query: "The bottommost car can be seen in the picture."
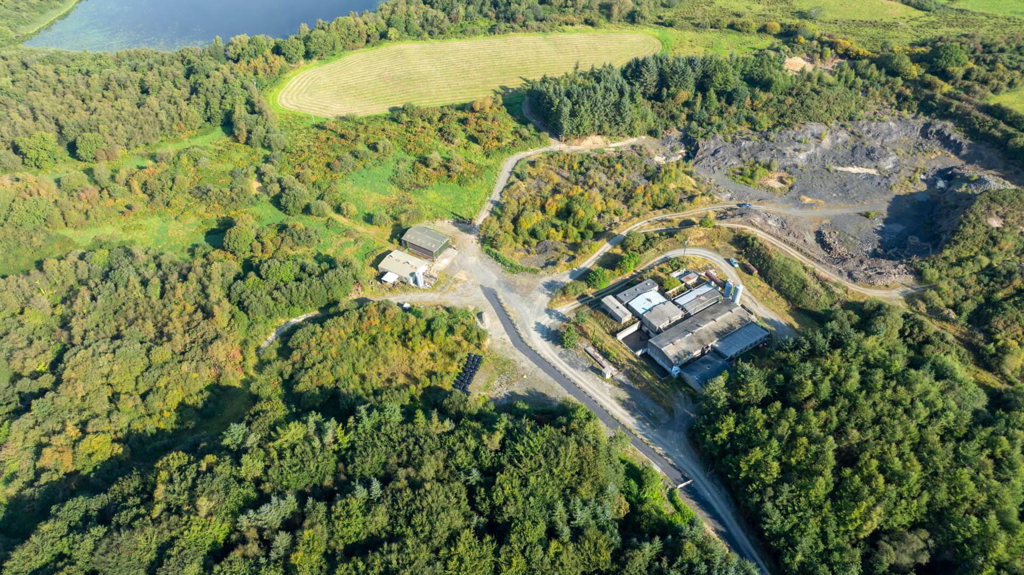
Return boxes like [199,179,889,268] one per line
[726,257,743,269]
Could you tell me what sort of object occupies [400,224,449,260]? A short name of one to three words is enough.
shed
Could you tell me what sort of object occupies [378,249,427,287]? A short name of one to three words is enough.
shed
